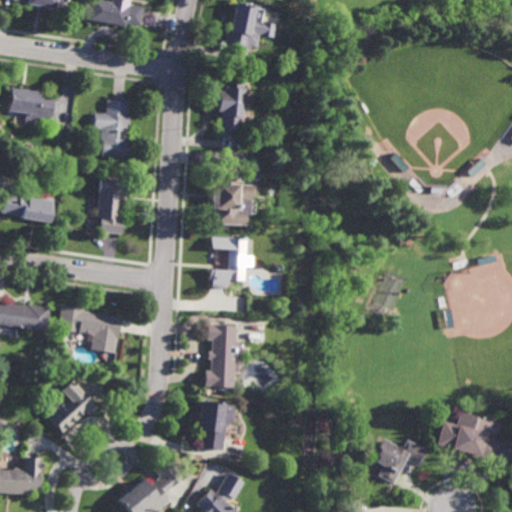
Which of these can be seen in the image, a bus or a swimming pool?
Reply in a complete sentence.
Of the two, only a swimming pool appears.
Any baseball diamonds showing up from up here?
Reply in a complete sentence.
Yes, this view includes a baseball diamond.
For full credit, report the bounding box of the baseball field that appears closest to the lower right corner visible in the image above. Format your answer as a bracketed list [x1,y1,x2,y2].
[444,250,512,338]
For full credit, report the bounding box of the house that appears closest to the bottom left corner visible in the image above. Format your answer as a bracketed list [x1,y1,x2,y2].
[0,453,44,496]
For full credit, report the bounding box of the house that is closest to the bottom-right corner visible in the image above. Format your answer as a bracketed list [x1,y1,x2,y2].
[438,410,498,459]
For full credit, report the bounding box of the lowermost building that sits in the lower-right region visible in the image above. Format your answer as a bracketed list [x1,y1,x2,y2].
[376,436,428,488]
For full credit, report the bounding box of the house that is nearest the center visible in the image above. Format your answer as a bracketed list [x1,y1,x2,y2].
[212,235,256,288]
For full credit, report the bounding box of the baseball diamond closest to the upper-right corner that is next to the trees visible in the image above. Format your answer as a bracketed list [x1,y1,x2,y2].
[348,46,512,190]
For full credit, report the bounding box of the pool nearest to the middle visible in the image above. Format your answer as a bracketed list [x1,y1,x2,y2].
[248,276,280,295]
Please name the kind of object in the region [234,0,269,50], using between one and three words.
house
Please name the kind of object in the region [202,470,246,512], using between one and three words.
house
